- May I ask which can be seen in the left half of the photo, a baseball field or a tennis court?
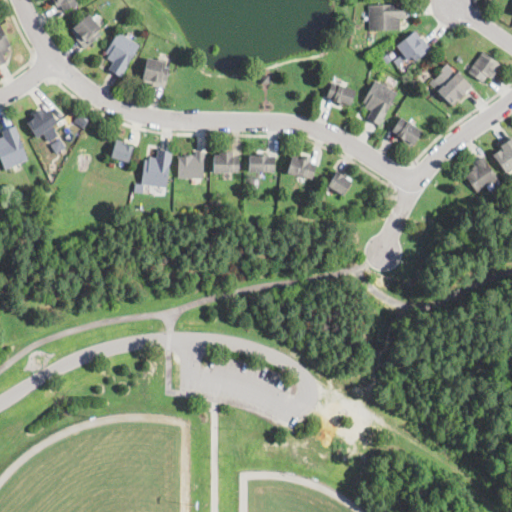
baseball field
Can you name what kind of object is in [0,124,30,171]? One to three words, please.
house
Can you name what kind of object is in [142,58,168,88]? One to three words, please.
house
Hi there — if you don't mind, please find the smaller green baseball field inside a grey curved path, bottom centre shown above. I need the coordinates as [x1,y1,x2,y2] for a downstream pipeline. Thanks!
[240,471,358,512]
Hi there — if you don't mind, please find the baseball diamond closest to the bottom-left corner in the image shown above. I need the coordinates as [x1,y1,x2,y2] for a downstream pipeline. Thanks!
[0,414,190,512]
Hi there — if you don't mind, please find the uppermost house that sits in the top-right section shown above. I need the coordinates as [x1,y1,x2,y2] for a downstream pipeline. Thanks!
[370,5,403,31]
